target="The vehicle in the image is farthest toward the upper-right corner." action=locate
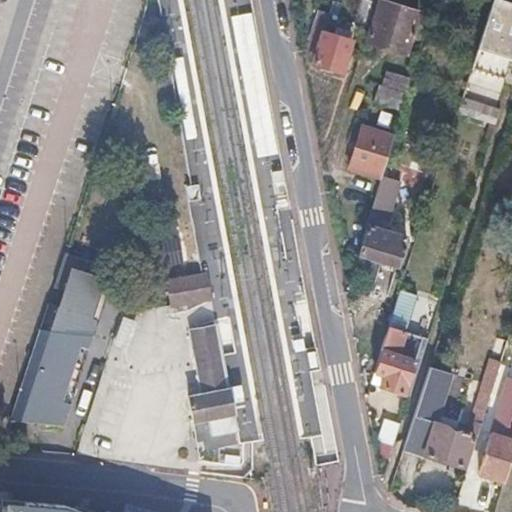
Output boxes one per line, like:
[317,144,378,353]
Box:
[350,88,364,111]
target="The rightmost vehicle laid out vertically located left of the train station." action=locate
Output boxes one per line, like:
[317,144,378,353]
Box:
[147,148,160,176]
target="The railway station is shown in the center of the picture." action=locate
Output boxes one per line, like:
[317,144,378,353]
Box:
[161,0,321,443]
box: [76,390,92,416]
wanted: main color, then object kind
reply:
white vehicle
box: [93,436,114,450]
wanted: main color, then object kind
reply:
white car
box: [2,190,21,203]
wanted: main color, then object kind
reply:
red vehicle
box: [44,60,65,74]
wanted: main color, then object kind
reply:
white vehicle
